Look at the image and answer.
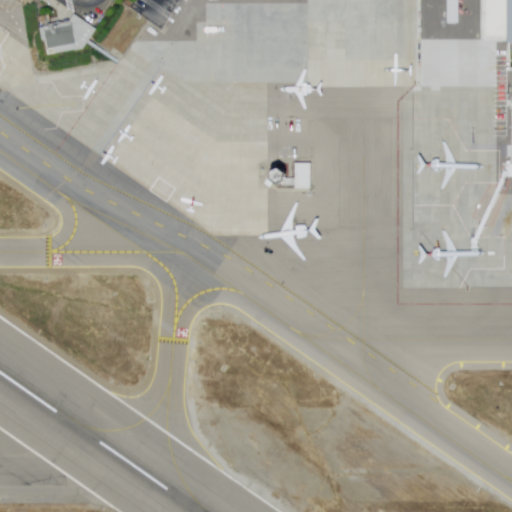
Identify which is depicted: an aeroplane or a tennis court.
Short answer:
aeroplane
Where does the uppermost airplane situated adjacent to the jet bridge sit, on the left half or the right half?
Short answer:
right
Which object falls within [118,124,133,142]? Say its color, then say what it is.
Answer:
white airplane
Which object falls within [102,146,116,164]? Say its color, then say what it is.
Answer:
white airplane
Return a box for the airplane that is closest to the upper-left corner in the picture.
[82,79,98,100]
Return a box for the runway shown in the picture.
[0,314,282,512]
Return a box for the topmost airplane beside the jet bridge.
[419,144,482,190]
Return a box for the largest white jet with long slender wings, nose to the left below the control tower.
[260,201,322,260]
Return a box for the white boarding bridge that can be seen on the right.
[472,168,506,252]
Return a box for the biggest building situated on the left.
[39,14,96,54]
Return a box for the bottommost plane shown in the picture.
[418,231,482,278]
